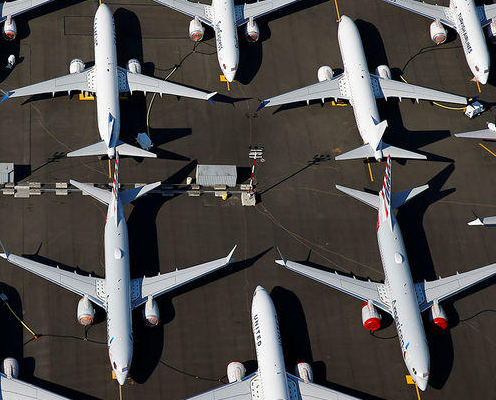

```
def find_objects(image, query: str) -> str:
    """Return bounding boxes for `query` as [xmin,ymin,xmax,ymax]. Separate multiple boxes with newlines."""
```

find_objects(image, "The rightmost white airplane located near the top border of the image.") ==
[381,0,496,84]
